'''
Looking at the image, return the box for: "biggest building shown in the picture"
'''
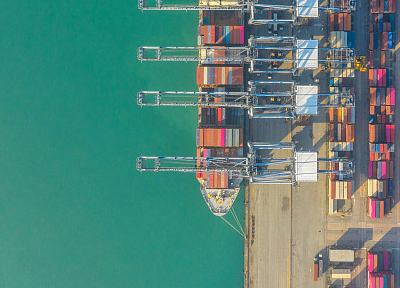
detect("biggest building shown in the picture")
[329,247,355,261]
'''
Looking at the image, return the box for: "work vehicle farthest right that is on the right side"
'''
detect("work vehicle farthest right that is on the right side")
[355,54,367,72]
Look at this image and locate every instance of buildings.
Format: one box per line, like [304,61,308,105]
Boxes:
[332,267,352,277]
[329,247,355,261]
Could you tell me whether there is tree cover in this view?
No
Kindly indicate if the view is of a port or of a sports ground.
port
